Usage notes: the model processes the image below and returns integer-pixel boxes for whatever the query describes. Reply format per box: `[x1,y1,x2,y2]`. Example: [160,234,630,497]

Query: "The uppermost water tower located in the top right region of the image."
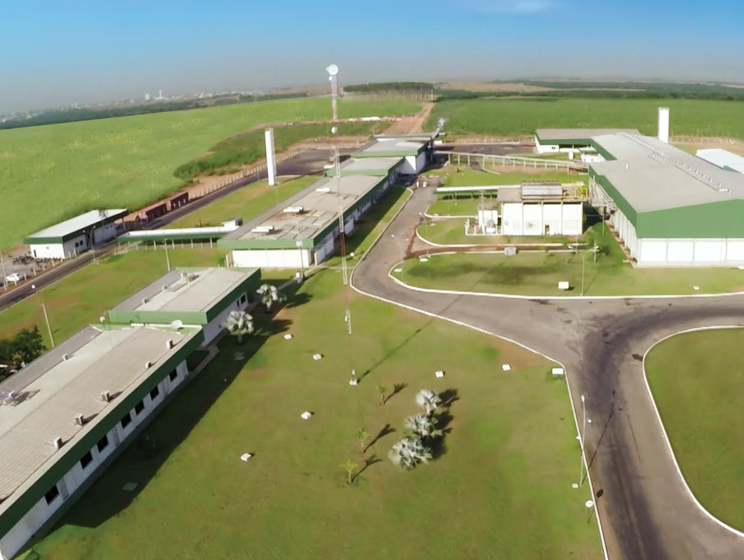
[658,108,670,142]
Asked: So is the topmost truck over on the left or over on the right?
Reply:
left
